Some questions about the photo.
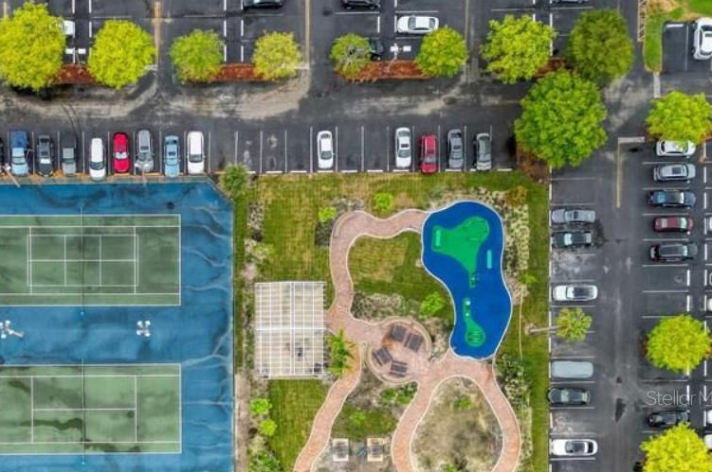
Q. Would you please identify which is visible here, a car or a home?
car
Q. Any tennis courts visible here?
Yes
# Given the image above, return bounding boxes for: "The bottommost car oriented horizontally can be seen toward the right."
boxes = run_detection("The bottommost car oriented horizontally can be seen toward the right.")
[552,439,594,457]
